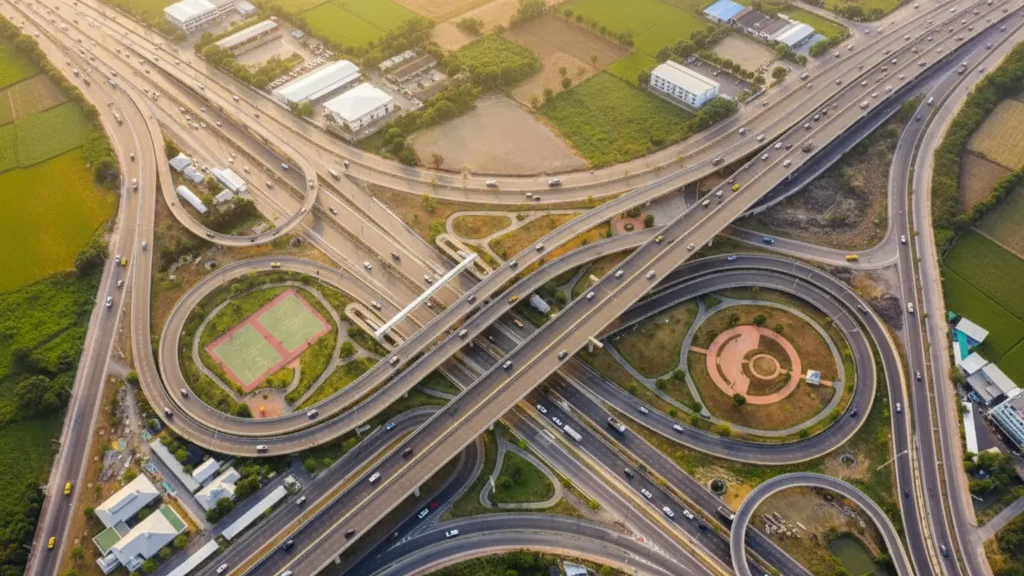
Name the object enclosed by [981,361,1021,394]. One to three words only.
shed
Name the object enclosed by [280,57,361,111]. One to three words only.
building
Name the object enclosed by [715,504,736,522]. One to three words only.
vehicle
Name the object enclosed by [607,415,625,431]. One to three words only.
vehicle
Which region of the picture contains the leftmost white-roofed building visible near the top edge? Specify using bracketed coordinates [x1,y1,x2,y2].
[167,0,235,33]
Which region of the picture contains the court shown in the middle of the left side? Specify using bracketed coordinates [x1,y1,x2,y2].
[205,288,332,392]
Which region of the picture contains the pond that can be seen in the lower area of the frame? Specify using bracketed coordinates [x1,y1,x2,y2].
[830,532,884,576]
